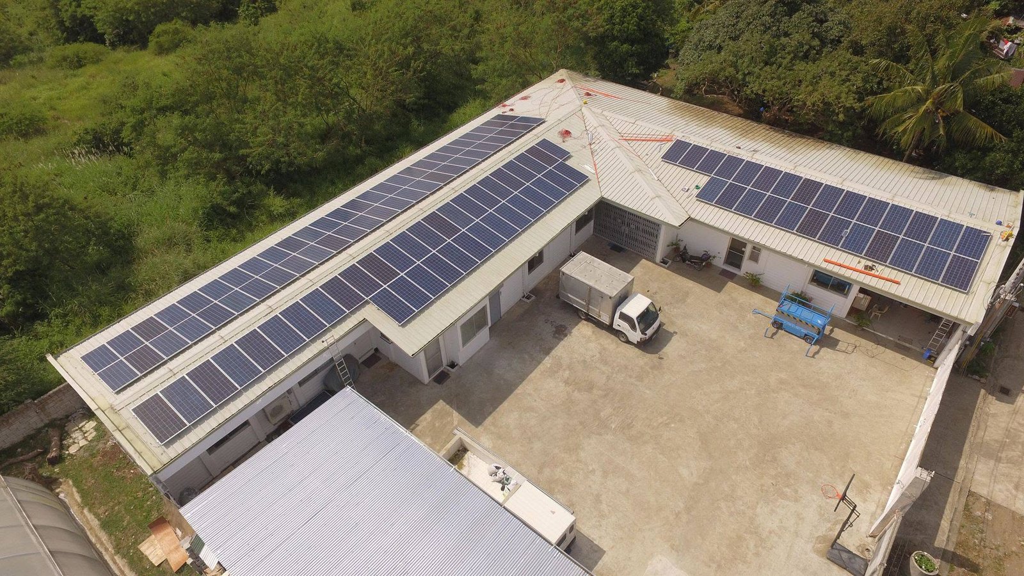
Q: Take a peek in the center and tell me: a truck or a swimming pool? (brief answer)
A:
truck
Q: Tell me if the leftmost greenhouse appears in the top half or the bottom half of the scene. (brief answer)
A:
bottom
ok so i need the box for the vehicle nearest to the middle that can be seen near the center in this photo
[558,252,664,348]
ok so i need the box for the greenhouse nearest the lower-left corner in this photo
[0,478,110,576]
